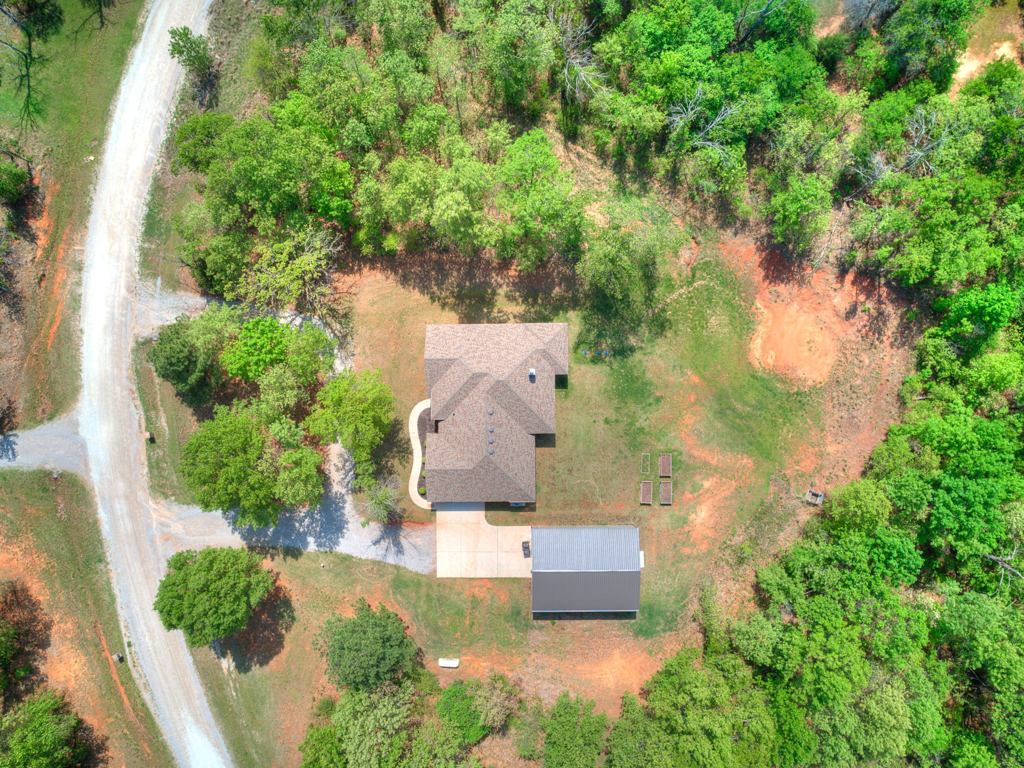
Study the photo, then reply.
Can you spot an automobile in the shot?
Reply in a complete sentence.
No, the picture doesn't show any automobile.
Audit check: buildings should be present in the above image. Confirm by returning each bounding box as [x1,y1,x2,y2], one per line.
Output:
[530,522,645,612]
[423,324,569,503]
